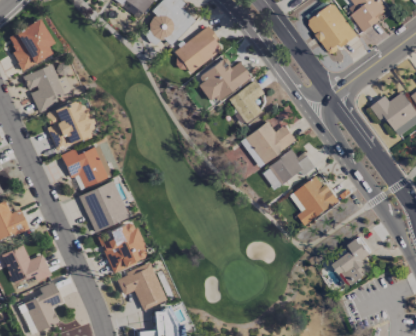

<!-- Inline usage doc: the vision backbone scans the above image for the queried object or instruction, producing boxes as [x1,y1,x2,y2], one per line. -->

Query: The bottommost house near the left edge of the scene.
[18,284,62,334]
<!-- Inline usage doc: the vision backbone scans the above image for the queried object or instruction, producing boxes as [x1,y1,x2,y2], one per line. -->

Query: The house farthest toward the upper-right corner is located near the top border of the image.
[351,0,386,32]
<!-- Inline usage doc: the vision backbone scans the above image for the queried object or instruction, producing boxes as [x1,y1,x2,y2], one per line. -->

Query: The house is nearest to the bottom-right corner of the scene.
[332,237,376,287]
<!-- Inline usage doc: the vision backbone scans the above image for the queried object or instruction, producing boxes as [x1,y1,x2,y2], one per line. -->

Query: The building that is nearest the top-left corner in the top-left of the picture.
[10,19,60,69]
